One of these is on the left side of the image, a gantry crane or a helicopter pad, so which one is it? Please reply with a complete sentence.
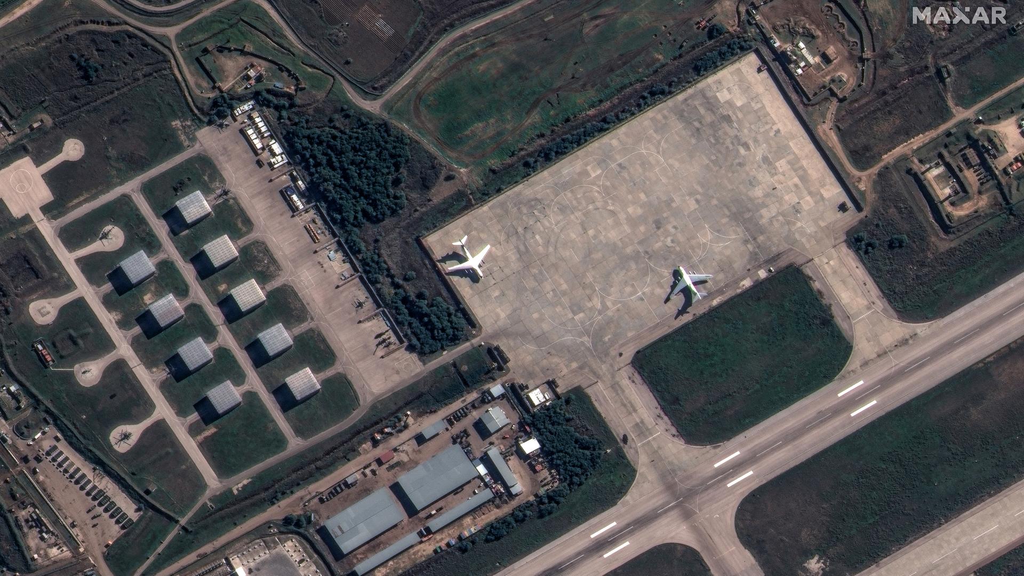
It is a helicopter pad that can be seen on the left side of the image.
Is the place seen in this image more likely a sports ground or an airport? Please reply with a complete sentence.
This image shows an airport.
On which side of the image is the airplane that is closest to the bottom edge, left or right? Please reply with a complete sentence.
It is on the right.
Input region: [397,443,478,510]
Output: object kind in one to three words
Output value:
building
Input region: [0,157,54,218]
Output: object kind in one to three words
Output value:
helipad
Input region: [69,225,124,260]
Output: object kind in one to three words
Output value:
helipad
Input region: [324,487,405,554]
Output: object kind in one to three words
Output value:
building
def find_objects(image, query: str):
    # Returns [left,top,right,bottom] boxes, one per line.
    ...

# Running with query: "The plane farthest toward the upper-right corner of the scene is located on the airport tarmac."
[674,266,714,306]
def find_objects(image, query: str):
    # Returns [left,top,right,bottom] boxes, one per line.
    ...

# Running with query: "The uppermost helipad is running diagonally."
[38,139,84,175]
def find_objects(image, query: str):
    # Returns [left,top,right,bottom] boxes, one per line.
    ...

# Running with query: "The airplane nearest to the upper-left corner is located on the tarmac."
[449,236,489,279]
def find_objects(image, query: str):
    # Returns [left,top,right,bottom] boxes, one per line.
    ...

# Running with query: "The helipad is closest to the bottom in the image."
[109,406,164,452]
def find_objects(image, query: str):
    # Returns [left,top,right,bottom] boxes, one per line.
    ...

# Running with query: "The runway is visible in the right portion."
[490,273,1024,576]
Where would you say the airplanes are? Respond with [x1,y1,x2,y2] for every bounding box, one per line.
[449,236,489,279]
[674,266,714,306]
